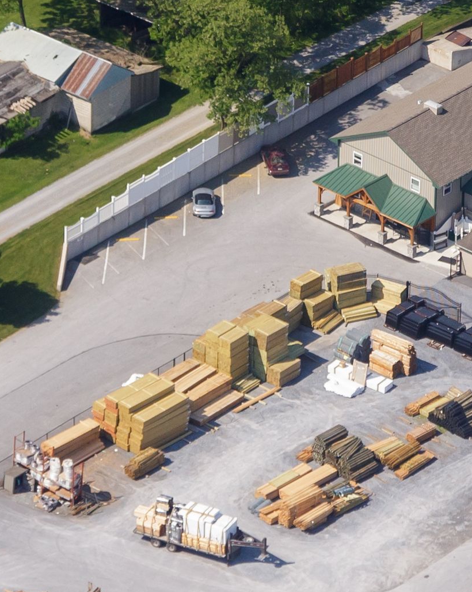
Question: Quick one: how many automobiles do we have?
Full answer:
Looking from above, you can make out 2 automobiles.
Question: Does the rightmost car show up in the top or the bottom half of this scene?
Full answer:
Seen from above, the rightmost car lies in the top half of the view.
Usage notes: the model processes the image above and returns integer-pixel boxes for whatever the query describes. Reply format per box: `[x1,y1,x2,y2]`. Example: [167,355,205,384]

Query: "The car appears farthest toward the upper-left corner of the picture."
[191,188,216,218]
